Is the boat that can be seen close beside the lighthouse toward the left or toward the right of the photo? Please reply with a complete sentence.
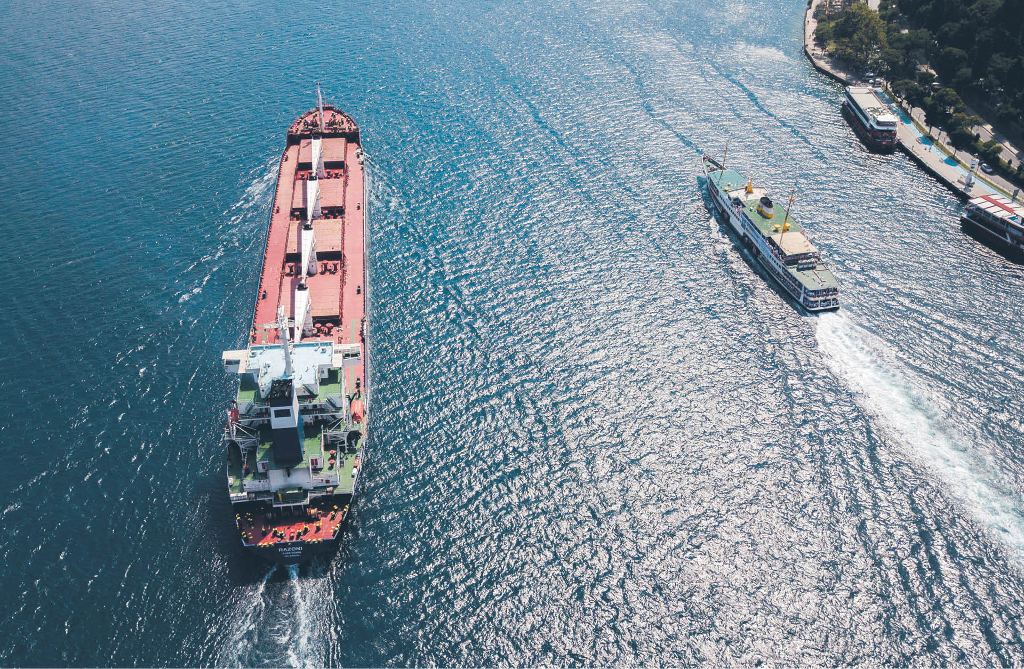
The boat that can be seen close beside the lighthouse sits on the right side.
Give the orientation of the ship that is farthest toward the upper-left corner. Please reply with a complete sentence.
What the image shows is the ship that is farthest toward the upper-left corner lying vertically.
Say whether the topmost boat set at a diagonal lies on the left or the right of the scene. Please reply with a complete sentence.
The topmost boat set at a diagonal is on the right side of the image.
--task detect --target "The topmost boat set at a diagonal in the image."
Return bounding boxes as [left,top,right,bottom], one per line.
[845,86,898,149]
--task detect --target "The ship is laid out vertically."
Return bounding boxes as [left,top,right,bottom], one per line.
[219,83,370,567]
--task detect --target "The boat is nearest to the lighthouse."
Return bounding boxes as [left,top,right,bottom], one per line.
[963,195,1024,259]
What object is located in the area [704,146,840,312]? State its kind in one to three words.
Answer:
ship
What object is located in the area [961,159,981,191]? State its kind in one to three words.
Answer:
lighthouse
